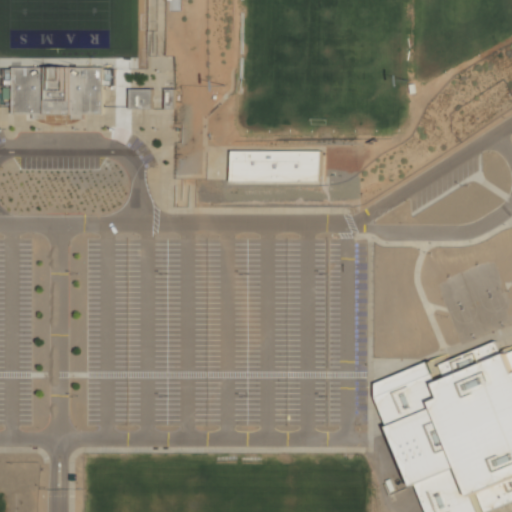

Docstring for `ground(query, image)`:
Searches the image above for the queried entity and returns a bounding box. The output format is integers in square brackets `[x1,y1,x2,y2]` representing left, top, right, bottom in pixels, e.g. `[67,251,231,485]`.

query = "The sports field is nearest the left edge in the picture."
[0,0,138,58]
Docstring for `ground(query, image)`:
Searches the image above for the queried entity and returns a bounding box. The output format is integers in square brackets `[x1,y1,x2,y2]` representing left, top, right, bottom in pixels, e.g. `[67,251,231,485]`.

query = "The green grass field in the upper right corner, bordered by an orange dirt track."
[413,0,512,92]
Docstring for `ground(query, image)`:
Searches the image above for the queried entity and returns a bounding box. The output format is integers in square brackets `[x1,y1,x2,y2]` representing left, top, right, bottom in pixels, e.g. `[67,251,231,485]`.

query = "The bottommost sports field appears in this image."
[78,450,384,512]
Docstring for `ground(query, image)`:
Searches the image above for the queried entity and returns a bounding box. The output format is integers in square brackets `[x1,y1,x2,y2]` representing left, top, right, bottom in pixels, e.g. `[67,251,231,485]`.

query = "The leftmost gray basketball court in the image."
[443,276,486,344]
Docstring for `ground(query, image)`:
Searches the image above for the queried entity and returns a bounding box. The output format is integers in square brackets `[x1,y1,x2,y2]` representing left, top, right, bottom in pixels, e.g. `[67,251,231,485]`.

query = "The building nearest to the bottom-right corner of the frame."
[372,341,512,512]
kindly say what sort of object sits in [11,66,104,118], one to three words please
building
